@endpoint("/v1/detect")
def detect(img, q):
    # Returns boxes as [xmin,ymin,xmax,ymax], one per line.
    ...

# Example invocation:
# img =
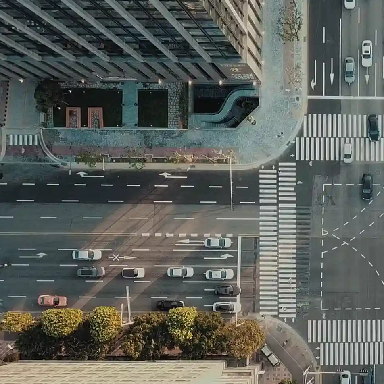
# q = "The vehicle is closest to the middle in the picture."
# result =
[205,237,232,249]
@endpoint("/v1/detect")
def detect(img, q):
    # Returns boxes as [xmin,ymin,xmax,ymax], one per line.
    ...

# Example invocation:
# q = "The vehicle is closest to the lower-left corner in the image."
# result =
[39,295,67,307]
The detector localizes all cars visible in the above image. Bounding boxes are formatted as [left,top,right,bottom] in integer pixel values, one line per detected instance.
[79,266,105,278]
[343,56,356,84]
[214,301,241,312]
[167,266,195,278]
[74,249,101,261]
[344,0,354,9]
[215,284,241,297]
[342,142,354,164]
[361,173,373,201]
[361,40,373,68]
[207,268,234,280]
[363,369,373,384]
[39,295,67,307]
[367,114,380,141]
[205,237,232,249]
[157,299,184,310]
[341,372,351,384]
[122,267,144,279]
